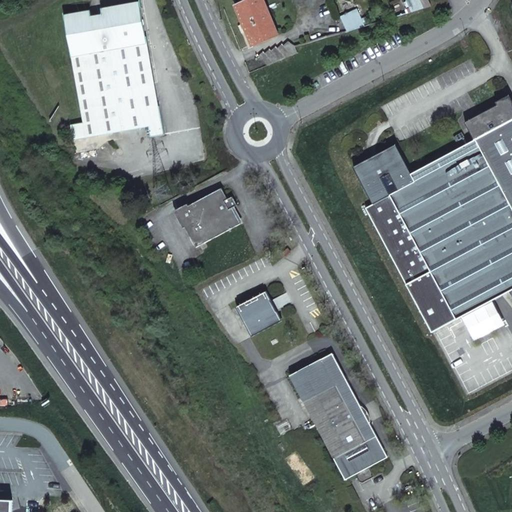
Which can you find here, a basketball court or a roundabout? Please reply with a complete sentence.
The one in the frame is a roundabout.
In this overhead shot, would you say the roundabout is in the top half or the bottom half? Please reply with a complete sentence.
It is in the top half that the roundabout appears.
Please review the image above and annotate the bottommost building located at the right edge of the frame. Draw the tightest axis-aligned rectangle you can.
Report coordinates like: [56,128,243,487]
[352,96,512,330]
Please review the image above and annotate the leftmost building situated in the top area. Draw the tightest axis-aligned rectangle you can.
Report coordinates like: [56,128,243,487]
[62,0,165,140]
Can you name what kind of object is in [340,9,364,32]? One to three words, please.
shed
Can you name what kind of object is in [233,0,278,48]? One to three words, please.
house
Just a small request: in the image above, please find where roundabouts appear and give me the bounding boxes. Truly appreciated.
[222,99,290,166]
